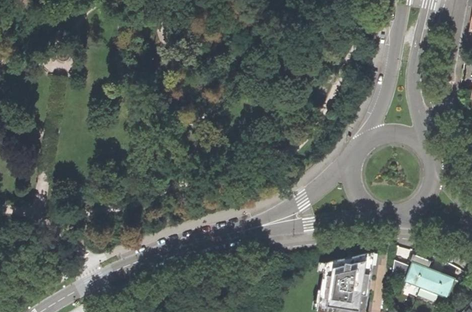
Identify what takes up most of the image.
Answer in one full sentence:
The bulk of the photo consists of trees.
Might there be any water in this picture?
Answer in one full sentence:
No, the scene doesn't show any water.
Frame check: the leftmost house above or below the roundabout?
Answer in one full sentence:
As seen from overhead, the leftmost house falls below the roundabout in the picture.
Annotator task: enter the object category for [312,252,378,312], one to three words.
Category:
house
